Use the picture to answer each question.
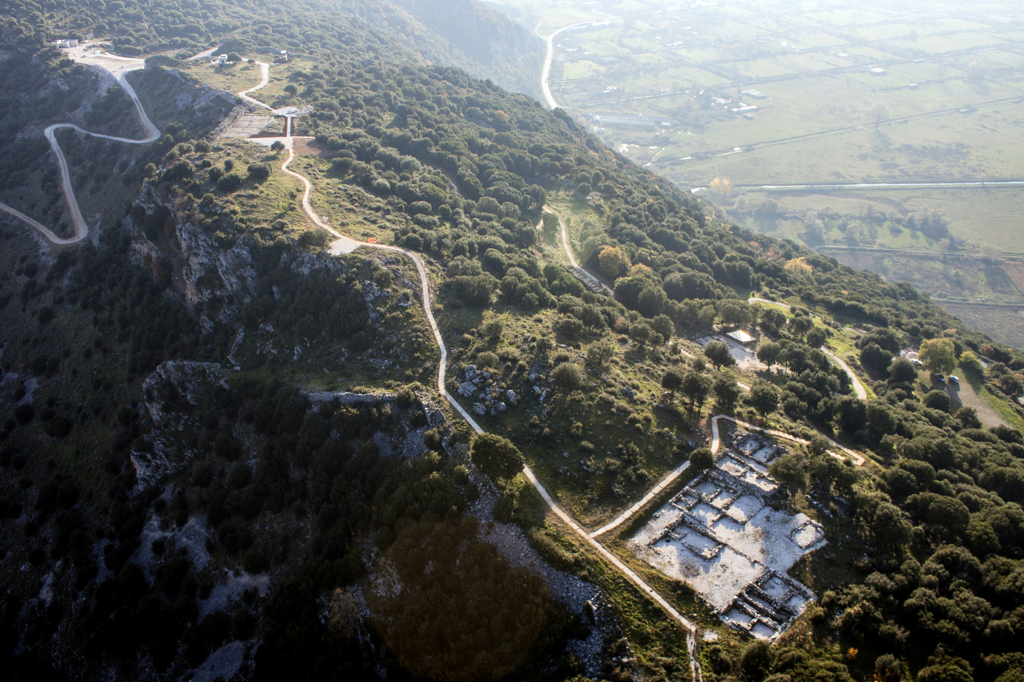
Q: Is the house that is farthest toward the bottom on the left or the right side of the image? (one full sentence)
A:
It is on the right.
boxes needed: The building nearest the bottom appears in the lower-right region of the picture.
[718,567,812,643]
